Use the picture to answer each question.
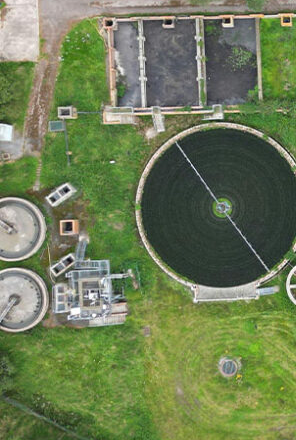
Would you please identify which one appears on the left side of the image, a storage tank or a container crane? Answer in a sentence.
There is a storage tank on the left side of the image.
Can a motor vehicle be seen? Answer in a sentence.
No, no motor vehicle is visible in the view.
